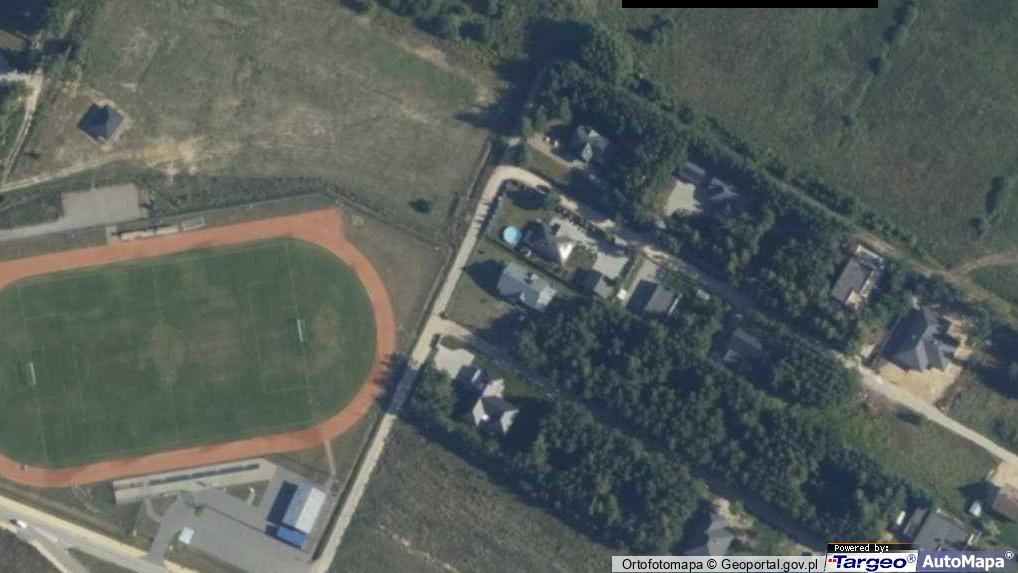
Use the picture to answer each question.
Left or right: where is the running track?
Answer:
left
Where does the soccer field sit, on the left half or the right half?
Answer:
left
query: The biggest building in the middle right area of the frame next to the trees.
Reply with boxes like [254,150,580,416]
[879,308,956,372]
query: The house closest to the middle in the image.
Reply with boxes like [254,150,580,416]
[498,265,556,309]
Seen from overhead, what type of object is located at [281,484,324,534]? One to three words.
building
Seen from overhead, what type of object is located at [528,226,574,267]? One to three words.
building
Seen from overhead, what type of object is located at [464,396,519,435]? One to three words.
house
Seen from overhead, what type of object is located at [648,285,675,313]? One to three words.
house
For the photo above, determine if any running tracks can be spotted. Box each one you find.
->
[0,208,393,485]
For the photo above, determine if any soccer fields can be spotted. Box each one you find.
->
[0,236,376,469]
